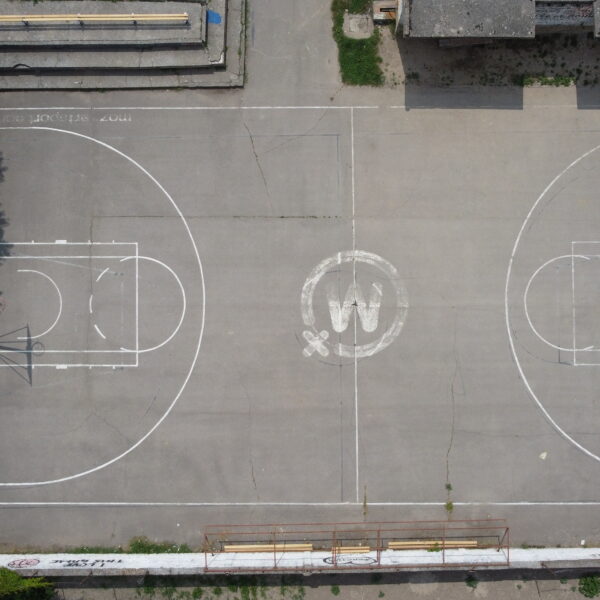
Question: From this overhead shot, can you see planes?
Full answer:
No, there isn't any plane down there.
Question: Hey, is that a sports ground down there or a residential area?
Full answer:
This image shows a sports ground.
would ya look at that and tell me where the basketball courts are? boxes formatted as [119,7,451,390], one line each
[0,107,600,514]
